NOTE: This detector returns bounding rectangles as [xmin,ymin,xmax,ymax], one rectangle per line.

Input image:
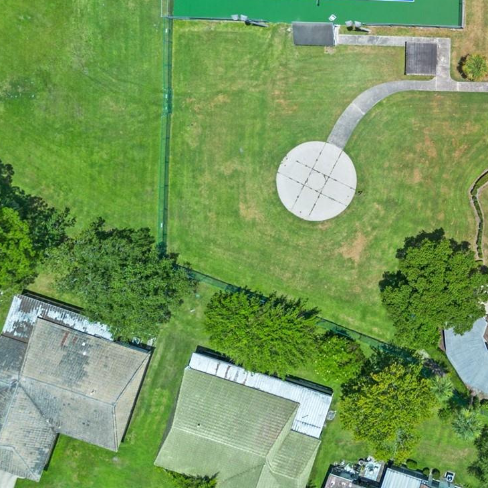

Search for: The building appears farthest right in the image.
[444,312,488,393]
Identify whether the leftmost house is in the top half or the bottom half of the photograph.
bottom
